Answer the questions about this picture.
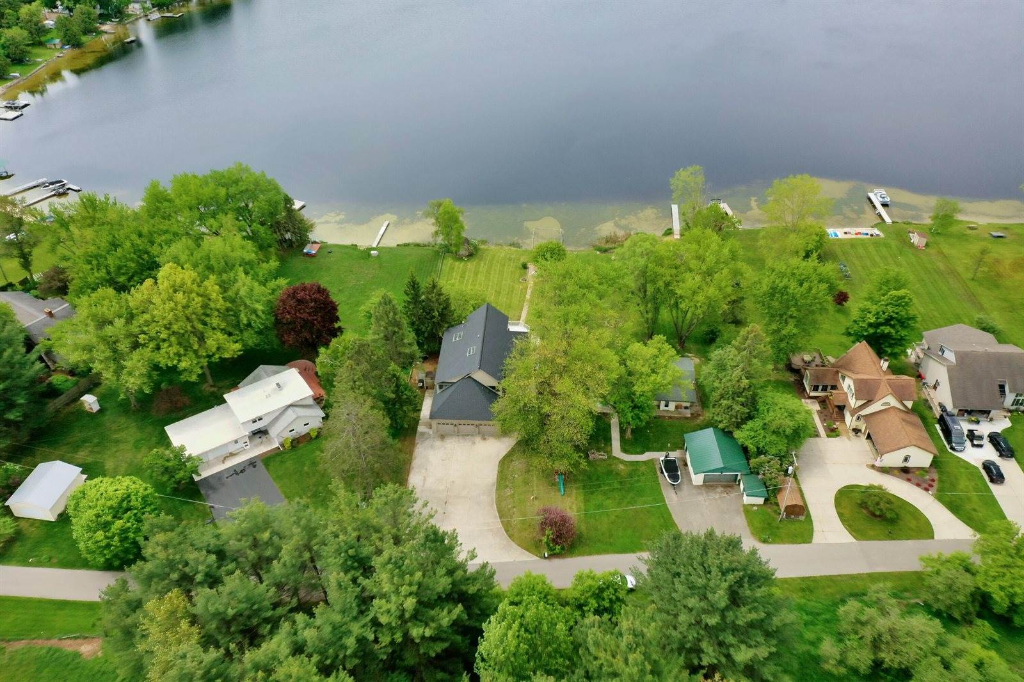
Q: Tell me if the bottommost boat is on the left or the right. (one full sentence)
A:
The bottommost boat is on the right side of the image.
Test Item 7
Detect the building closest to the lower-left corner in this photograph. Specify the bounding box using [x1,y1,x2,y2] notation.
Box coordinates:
[5,460,90,525]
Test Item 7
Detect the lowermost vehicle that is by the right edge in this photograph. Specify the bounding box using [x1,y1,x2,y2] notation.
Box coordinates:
[977,459,1010,484]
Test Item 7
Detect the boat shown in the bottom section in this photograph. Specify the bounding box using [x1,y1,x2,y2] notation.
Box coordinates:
[658,452,681,486]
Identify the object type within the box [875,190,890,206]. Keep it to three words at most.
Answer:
boat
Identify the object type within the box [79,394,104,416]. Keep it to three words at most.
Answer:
shed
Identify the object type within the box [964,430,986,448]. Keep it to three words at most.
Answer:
vehicle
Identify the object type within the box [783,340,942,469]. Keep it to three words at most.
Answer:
house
